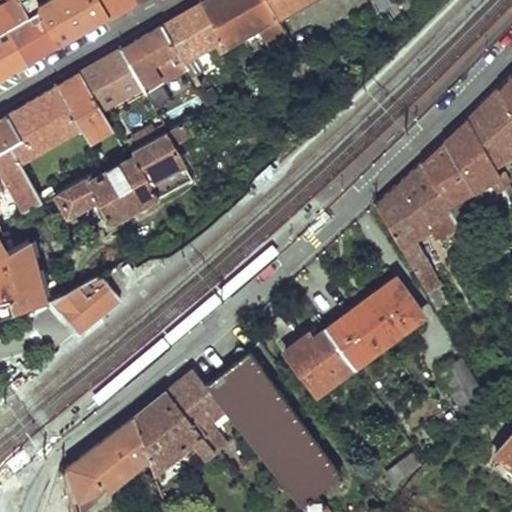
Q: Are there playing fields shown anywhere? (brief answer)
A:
No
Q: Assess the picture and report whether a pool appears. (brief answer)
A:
Yes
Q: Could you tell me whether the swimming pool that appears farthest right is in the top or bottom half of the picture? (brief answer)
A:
top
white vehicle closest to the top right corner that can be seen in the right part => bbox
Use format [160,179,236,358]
[480,44,502,66]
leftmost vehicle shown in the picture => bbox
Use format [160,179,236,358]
[2,75,22,92]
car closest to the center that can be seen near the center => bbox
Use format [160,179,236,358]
[258,261,280,282]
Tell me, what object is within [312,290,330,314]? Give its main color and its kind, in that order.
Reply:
white vehicle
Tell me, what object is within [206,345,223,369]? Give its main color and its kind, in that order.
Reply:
white vehicle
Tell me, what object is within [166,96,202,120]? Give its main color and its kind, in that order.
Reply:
white swimming pool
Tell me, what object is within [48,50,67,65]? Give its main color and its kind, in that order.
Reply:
white car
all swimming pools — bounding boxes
[126,112,142,126]
[166,96,202,120]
